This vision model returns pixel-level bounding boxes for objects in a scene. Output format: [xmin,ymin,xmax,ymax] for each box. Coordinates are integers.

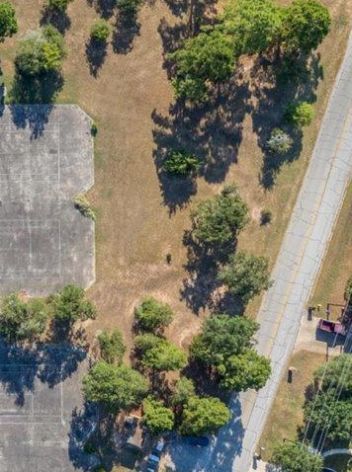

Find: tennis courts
[0,443,94,472]
[0,193,95,297]
[0,104,95,194]
[0,346,94,444]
